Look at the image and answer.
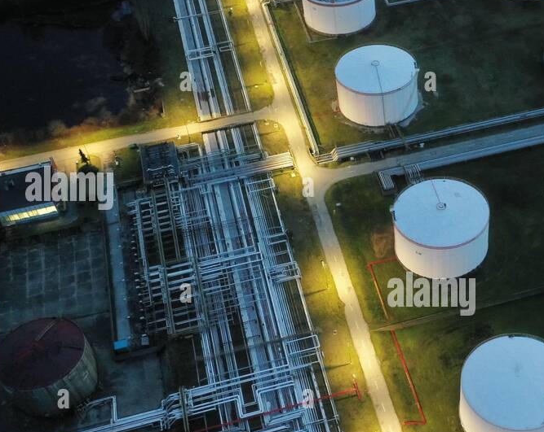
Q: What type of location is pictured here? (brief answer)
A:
industrial area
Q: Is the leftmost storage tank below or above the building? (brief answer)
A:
below it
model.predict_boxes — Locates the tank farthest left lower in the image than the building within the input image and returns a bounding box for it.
[0,318,101,420]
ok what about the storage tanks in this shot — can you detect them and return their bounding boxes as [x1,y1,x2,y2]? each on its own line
[300,0,379,35]
[386,176,491,281]
[334,41,423,129]
[456,331,544,432]
[0,318,101,420]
